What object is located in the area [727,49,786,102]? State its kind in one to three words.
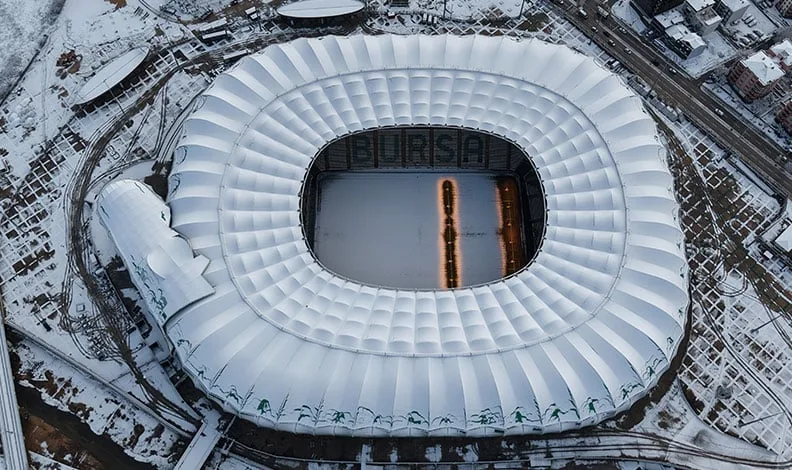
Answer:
building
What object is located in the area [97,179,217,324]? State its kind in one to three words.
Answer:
building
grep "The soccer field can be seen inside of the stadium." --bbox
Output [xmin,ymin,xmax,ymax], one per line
[311,169,531,291]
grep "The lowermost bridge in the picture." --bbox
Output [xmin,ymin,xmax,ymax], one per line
[172,421,223,470]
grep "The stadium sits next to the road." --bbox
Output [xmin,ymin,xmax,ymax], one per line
[160,33,689,436]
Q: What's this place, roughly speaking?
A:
sports ground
